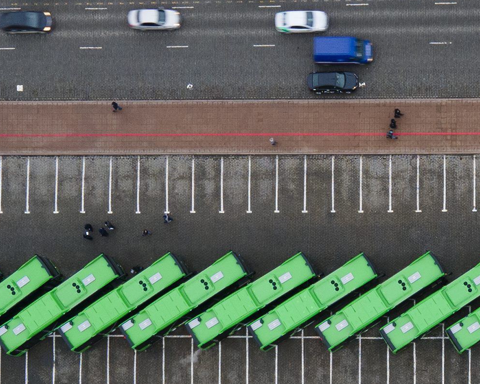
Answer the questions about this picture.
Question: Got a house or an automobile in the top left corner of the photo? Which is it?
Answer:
automobile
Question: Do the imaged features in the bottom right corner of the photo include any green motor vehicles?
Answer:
Yes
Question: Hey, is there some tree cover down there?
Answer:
No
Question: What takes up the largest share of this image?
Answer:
paved ground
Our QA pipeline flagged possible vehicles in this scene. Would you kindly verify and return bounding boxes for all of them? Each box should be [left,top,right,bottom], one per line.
[0,251,132,358]
[2,9,54,38]
[116,247,259,353]
[313,37,374,68]
[308,69,360,97]
[0,252,67,326]
[444,307,480,357]
[245,250,388,355]
[313,249,455,356]
[276,8,329,37]
[184,249,327,352]
[129,6,182,34]
[55,250,198,356]
[378,264,480,357]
